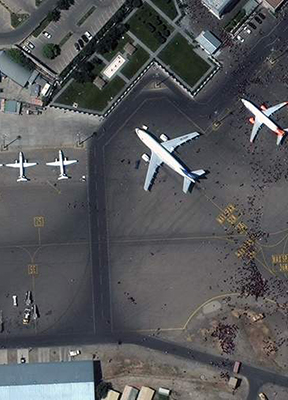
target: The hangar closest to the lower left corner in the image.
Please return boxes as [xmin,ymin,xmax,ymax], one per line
[0,360,96,400]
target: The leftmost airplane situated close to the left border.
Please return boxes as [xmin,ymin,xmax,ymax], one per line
[5,152,36,180]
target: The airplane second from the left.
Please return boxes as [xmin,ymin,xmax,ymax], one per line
[45,151,77,179]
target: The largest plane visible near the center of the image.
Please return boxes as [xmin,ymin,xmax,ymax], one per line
[135,128,206,192]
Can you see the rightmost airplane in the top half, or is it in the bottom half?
top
